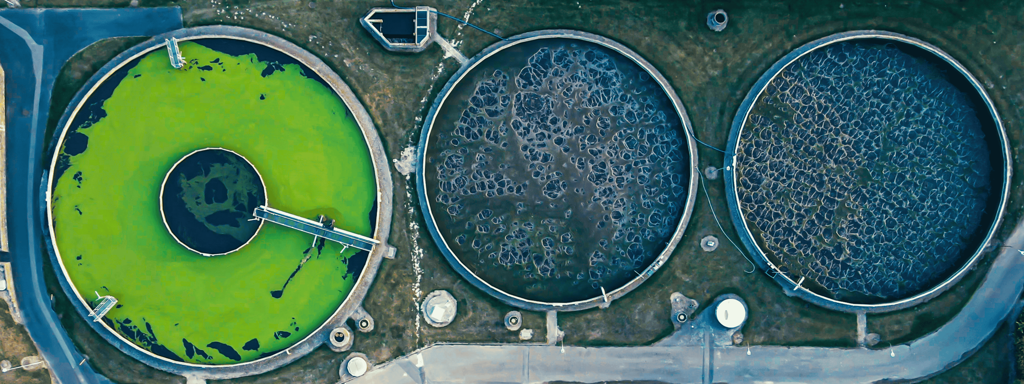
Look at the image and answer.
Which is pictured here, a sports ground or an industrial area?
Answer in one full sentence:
The picture captures an industrial area.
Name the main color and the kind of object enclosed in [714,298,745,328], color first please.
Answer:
white storage tank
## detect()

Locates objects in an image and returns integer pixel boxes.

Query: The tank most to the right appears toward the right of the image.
[731,35,1011,306]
